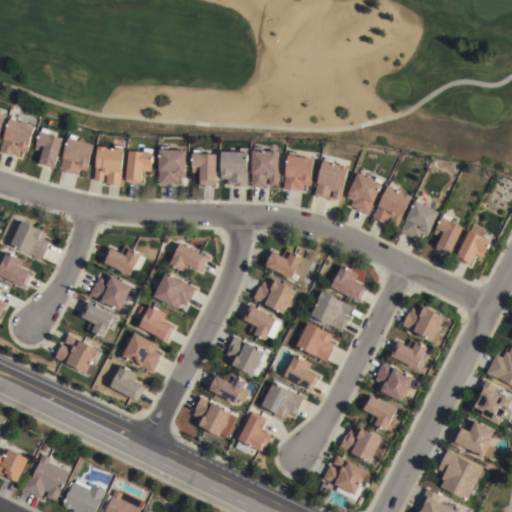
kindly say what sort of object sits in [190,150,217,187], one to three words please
house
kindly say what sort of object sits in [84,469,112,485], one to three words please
swimming pool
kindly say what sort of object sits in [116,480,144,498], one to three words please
swimming pool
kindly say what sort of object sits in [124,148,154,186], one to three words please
house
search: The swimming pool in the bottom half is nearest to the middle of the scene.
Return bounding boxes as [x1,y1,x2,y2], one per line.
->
[276,349,292,374]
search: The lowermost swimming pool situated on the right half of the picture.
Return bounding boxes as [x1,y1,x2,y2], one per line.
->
[331,492,348,508]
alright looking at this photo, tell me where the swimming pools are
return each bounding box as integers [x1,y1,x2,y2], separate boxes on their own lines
[116,480,144,498]
[496,438,510,455]
[84,469,112,485]
[331,492,348,508]
[276,349,292,374]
